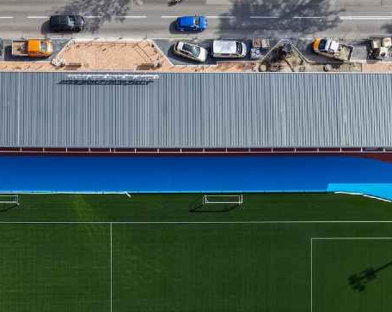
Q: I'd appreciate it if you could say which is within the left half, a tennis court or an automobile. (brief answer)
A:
automobile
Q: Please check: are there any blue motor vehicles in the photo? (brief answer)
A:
Yes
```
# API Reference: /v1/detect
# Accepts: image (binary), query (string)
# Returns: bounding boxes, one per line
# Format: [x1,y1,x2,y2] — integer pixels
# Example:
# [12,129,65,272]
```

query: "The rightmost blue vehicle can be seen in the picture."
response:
[176,16,206,33]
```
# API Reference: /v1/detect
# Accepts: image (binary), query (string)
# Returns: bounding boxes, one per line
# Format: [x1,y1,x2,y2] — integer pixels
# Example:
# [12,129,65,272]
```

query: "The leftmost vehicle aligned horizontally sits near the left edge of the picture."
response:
[14,38,52,57]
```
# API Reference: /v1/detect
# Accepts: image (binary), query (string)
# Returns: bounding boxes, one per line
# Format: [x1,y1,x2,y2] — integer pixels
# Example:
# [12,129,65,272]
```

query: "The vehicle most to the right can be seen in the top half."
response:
[368,39,390,59]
